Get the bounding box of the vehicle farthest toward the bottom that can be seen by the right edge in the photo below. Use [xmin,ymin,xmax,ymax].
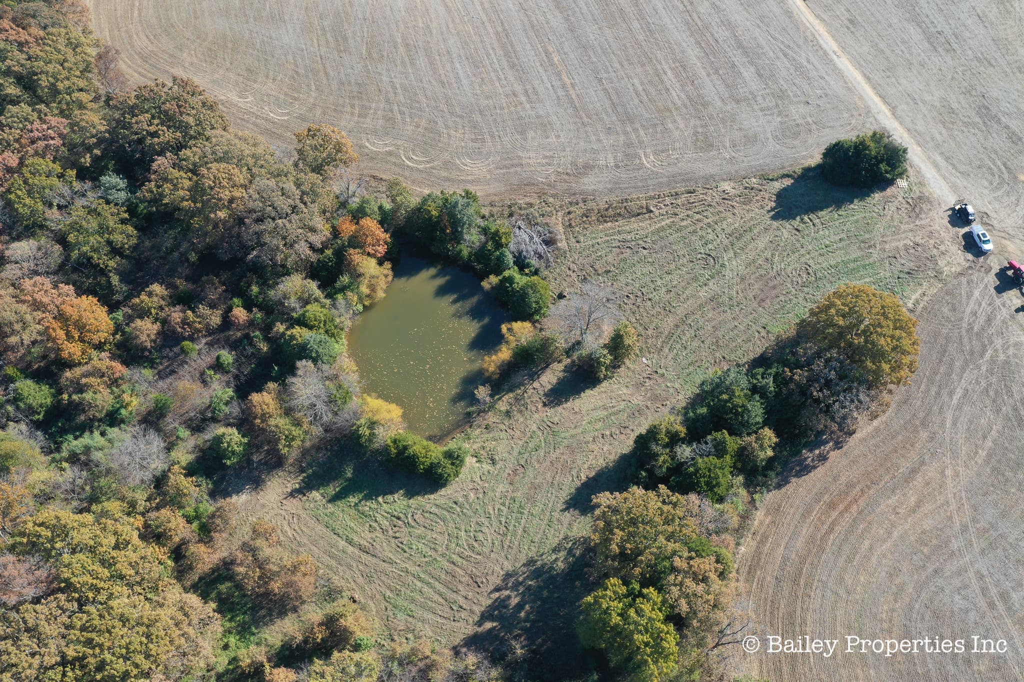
[999,259,1024,282]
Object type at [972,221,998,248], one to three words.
truck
